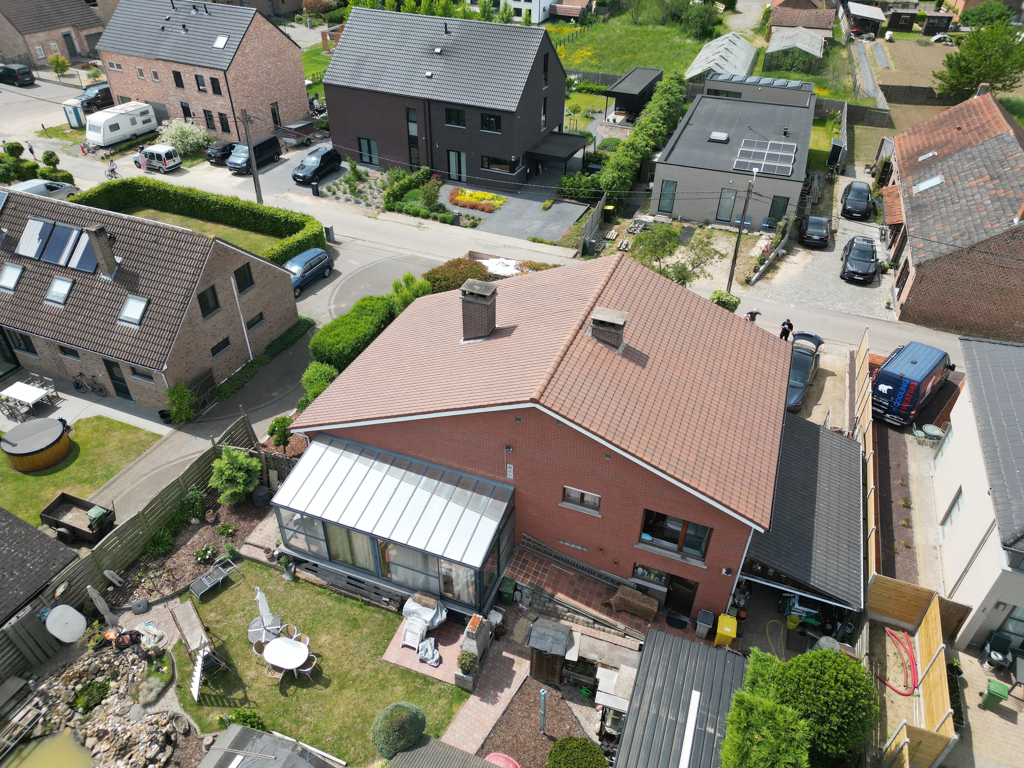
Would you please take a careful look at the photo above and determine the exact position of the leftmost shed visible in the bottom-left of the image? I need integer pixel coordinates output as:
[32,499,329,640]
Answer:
[0,508,96,666]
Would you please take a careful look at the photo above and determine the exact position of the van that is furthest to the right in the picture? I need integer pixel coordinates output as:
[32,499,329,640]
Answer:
[873,327,959,419]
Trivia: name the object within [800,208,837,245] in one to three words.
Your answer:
car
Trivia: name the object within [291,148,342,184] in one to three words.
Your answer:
car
